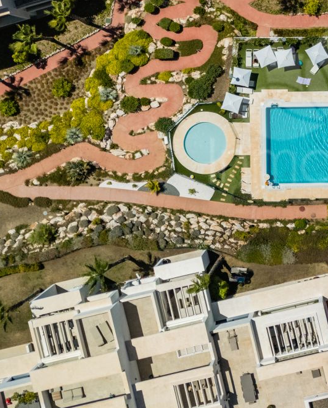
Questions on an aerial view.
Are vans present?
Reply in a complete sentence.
No, there is no van in the image.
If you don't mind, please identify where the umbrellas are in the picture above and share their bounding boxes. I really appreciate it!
[231,67,252,87]
[254,45,277,68]
[223,91,244,112]
[275,49,296,69]
[305,40,328,66]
